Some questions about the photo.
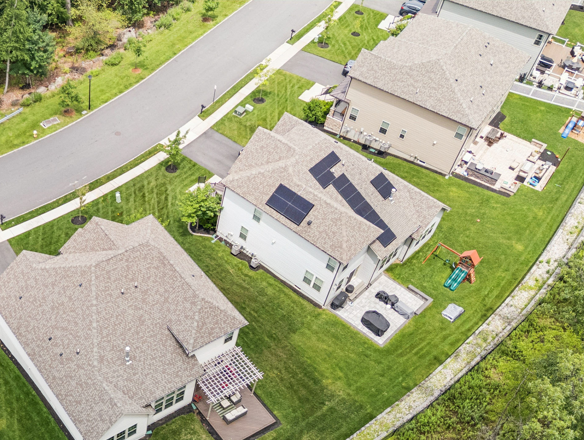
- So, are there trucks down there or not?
No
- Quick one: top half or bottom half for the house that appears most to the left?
bottom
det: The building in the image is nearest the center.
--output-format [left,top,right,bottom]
[205,114,459,306]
